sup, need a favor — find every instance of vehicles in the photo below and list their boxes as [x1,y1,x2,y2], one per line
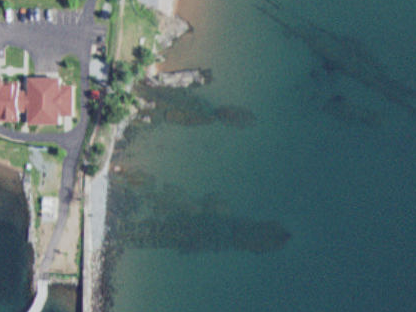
[98,10,112,18]
[28,8,34,22]
[34,8,41,22]
[5,8,12,23]
[20,8,26,22]
[46,9,54,23]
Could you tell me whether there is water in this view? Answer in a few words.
Yes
